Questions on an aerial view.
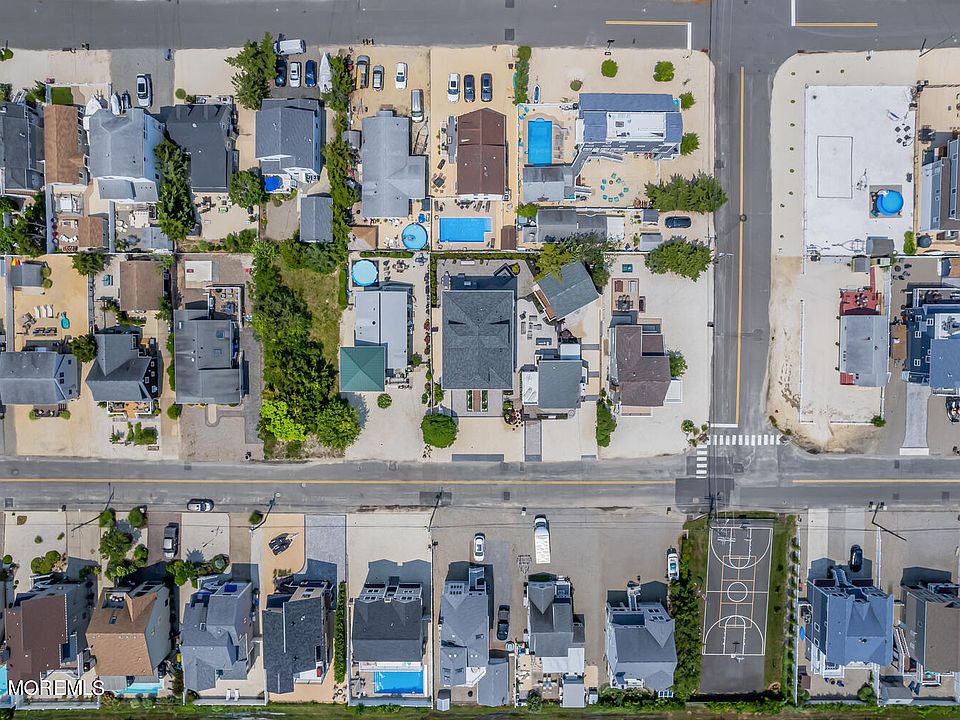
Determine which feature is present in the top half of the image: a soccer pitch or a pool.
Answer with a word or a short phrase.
pool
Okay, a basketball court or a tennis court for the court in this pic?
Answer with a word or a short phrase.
basketball court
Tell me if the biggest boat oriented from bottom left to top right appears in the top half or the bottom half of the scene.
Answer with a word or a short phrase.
bottom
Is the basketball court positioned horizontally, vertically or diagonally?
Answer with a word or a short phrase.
vertically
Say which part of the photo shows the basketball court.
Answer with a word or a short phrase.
bottom right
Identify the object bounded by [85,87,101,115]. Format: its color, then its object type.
white boat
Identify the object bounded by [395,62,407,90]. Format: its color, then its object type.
white vehicle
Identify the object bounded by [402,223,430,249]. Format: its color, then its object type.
blue swimming pool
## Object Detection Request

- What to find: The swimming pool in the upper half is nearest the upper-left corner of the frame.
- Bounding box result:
[263,176,281,194]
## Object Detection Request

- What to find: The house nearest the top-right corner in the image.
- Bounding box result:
[917,135,960,239]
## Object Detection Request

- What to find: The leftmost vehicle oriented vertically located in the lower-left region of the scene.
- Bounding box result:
[162,524,177,557]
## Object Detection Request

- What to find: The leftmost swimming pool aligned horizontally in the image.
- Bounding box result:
[109,682,164,694]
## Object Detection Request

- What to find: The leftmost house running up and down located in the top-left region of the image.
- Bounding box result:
[0,101,44,193]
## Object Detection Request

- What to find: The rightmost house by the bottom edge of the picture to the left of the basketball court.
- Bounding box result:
[605,579,682,700]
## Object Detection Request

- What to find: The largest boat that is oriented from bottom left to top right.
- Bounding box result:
[267,533,297,554]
